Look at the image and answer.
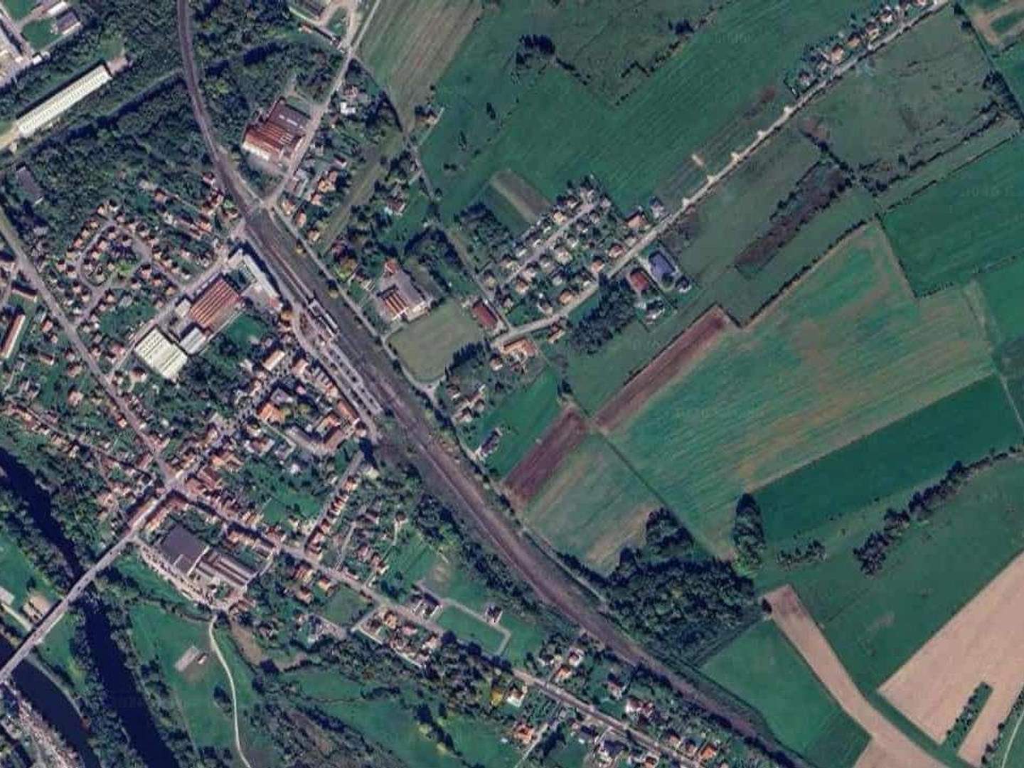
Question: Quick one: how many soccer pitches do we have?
1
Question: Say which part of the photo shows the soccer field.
center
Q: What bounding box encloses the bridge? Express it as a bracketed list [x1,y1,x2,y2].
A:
[0,537,128,680]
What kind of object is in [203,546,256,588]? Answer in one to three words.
building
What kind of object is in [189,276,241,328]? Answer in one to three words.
building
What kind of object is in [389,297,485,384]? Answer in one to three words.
soccer field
